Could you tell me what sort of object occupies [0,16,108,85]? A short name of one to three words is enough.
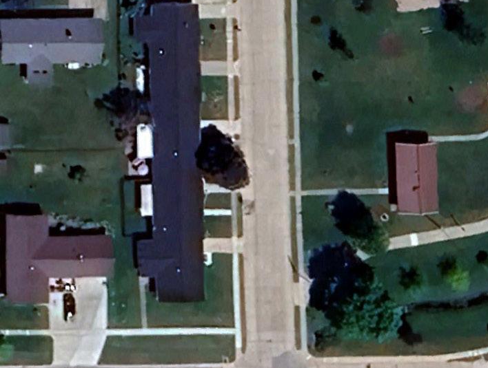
house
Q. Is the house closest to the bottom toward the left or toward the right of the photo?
left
